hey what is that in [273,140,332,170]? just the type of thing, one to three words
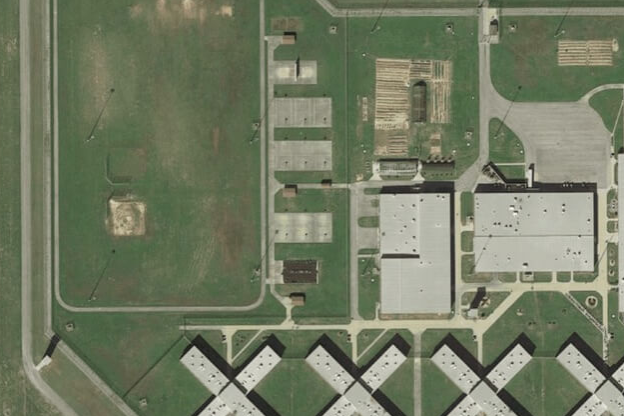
sports court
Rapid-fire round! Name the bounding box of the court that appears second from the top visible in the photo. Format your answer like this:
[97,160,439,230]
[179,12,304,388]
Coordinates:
[273,97,332,127]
